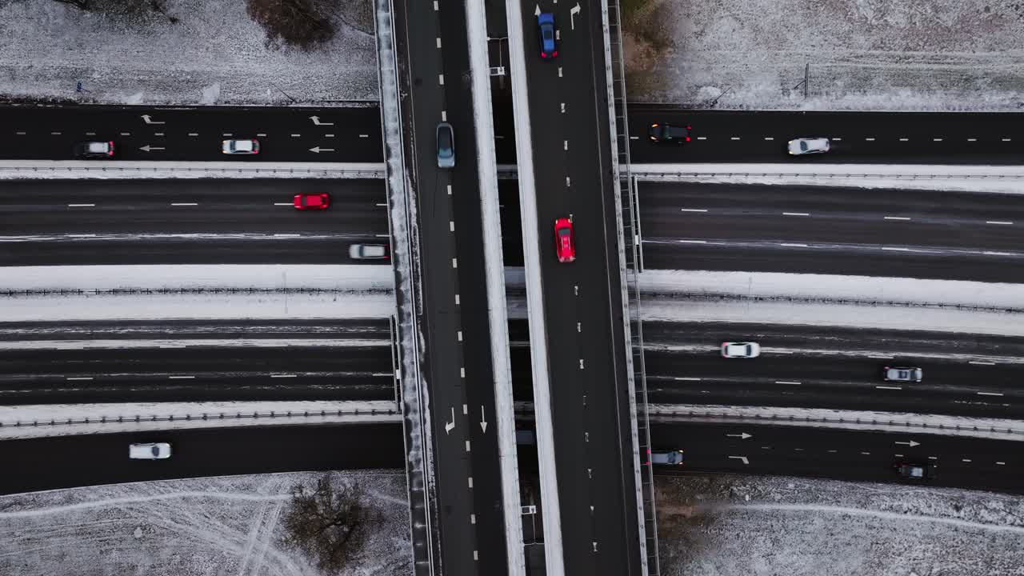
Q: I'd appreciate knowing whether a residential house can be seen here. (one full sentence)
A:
No, no residential house is visible in the view.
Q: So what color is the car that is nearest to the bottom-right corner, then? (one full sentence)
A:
The car that is nearest to the bottom-right corner is black.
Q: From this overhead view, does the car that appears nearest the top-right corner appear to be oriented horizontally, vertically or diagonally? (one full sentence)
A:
Seen from above, the car that appears nearest the top-right corner lies horizontally.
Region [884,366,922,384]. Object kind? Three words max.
car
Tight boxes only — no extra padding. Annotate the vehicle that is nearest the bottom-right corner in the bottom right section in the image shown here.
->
[893,462,936,482]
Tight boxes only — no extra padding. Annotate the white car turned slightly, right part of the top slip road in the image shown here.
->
[788,136,831,156]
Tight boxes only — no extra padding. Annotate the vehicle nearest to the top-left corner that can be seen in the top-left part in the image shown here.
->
[74,140,114,159]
